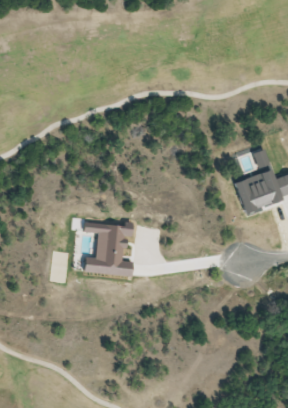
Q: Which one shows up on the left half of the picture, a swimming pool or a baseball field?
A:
swimming pool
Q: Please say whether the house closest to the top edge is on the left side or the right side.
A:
right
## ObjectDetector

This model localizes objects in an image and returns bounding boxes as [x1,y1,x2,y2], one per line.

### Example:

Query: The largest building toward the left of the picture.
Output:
[84,222,134,277]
